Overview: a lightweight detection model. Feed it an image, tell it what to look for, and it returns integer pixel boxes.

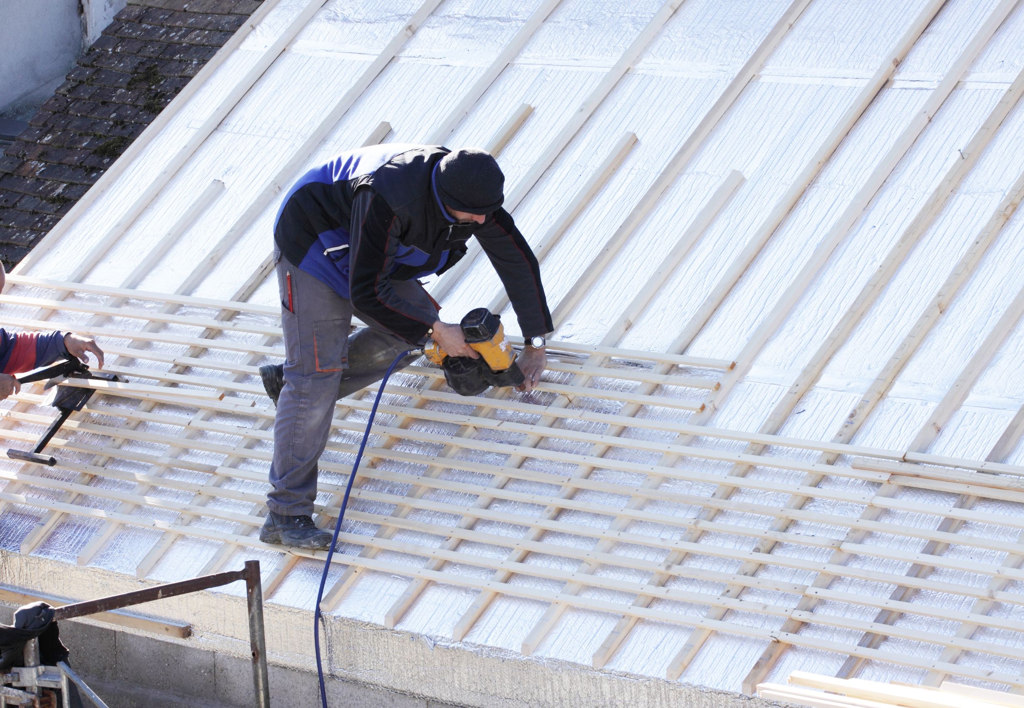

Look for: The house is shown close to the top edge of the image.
[0,0,142,149]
